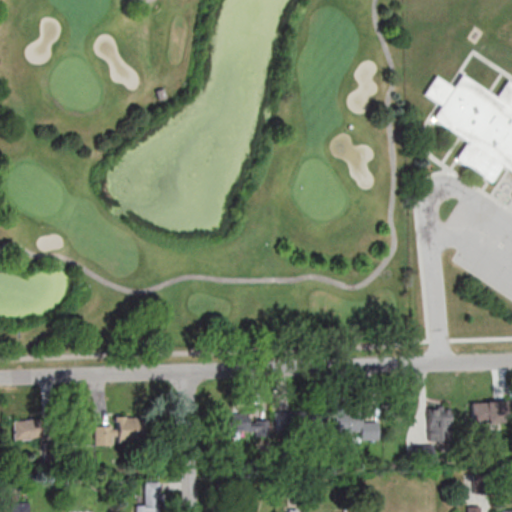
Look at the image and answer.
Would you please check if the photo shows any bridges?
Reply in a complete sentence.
No, no bridge can be seen from above.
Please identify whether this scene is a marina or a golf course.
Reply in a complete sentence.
What you see here is a golf course.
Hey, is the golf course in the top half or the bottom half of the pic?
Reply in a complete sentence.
The golf course is in the top half of the image.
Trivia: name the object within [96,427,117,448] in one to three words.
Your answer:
building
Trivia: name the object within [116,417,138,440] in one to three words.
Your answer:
house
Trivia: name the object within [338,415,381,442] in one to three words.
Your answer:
house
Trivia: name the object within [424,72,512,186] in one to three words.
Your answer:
building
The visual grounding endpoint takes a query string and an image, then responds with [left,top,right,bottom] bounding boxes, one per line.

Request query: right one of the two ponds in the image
[108,0,285,230]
